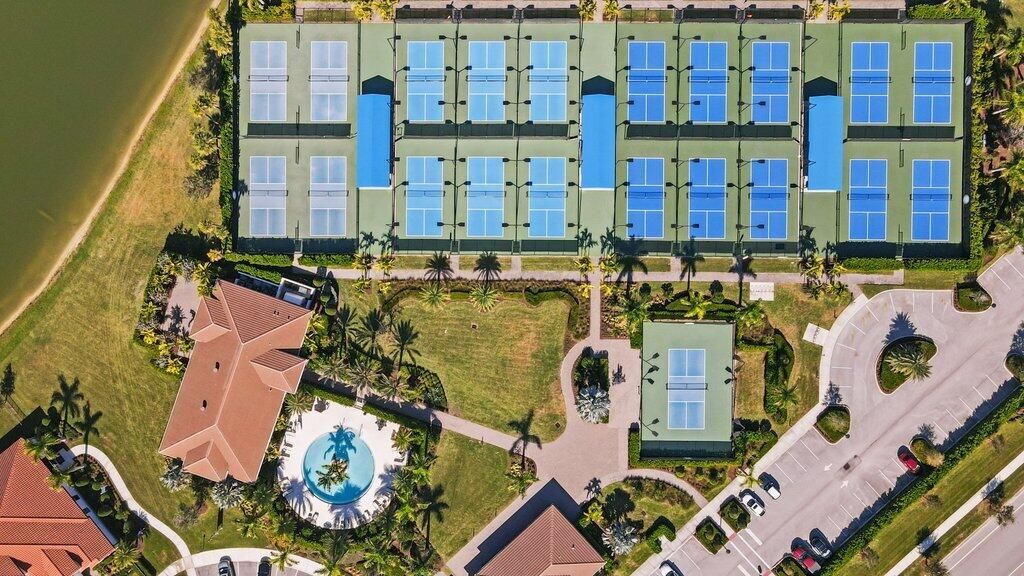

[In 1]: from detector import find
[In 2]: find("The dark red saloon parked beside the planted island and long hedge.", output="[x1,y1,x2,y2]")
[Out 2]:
[895,448,922,475]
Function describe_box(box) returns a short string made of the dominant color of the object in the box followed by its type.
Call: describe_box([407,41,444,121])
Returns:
blue sports court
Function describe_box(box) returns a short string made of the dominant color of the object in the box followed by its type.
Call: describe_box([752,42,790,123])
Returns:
blue sports court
